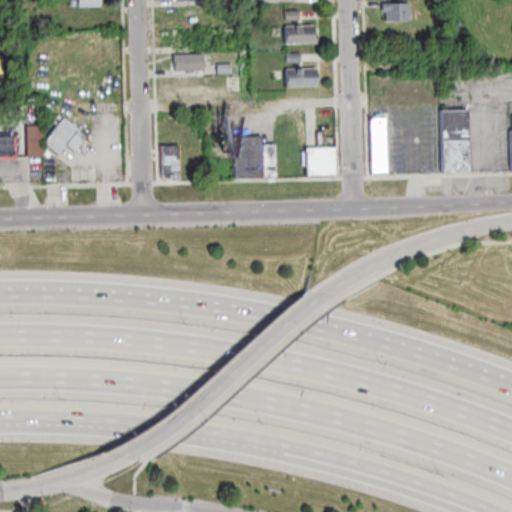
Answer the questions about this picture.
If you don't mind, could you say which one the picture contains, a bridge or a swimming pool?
bridge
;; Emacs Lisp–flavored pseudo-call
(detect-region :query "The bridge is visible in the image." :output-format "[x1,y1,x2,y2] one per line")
[112,293,344,464]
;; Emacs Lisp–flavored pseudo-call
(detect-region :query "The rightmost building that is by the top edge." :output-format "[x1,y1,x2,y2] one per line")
[382,2,410,21]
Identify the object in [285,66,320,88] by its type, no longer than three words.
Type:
house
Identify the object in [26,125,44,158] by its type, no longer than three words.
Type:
building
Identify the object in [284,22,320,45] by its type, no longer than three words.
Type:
house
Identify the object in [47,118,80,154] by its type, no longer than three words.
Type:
building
